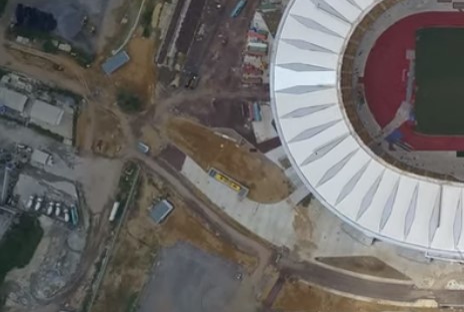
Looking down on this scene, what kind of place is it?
sports ground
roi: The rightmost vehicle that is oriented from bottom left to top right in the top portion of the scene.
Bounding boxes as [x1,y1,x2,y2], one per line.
[232,0,245,17]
